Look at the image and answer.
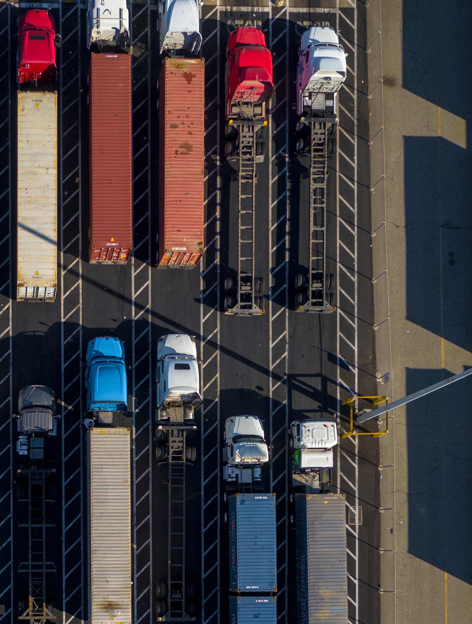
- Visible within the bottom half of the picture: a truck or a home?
truck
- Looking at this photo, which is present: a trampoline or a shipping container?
shipping container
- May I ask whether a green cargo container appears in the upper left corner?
No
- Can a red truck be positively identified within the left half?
Yes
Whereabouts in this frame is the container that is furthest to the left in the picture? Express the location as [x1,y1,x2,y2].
[17,91,57,299]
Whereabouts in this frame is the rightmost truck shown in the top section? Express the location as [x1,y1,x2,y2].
[297,27,350,164]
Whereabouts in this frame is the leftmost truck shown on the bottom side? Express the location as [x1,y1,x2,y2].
[13,384,62,514]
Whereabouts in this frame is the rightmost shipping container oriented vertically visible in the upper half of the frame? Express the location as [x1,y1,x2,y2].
[160,57,205,266]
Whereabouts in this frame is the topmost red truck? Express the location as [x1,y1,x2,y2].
[13,8,62,91]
